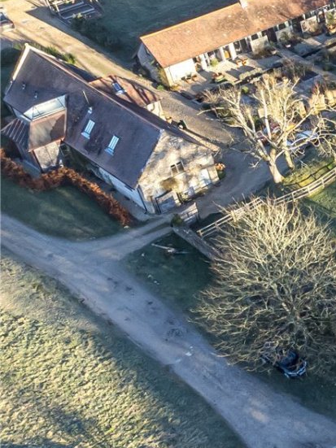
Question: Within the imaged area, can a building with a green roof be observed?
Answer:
No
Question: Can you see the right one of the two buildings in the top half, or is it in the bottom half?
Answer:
top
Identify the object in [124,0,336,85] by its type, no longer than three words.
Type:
building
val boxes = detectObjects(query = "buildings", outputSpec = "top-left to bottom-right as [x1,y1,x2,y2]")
[124,0,336,85]
[0,42,230,216]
